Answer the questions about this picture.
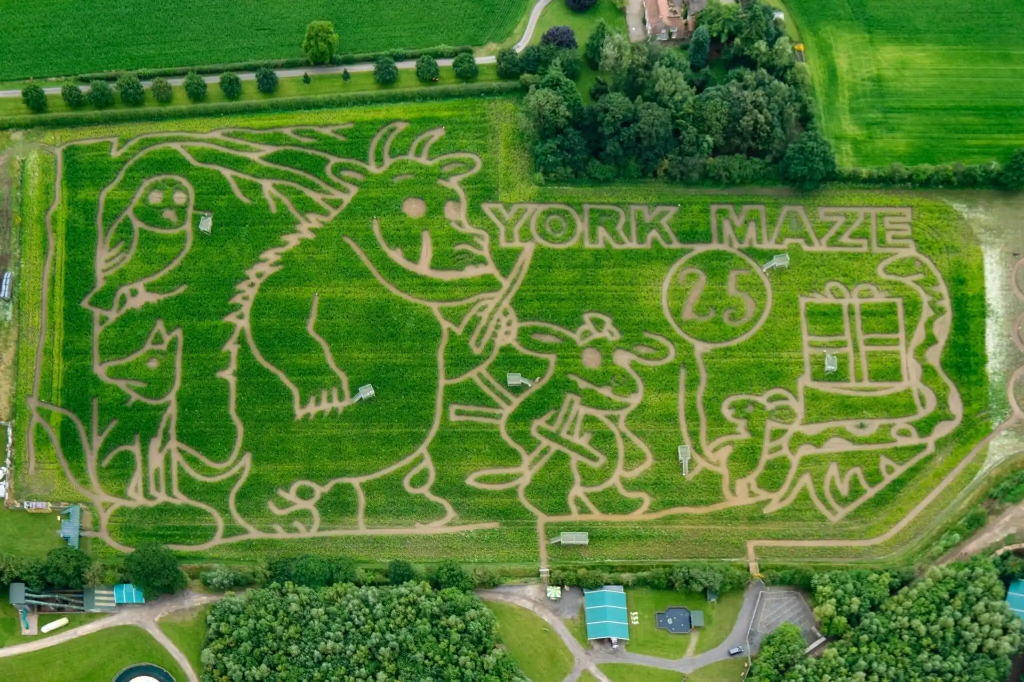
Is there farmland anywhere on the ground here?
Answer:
Yes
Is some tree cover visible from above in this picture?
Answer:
Yes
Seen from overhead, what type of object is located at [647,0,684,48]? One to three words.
house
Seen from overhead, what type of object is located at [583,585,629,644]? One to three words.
barn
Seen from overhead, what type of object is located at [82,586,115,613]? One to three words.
building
